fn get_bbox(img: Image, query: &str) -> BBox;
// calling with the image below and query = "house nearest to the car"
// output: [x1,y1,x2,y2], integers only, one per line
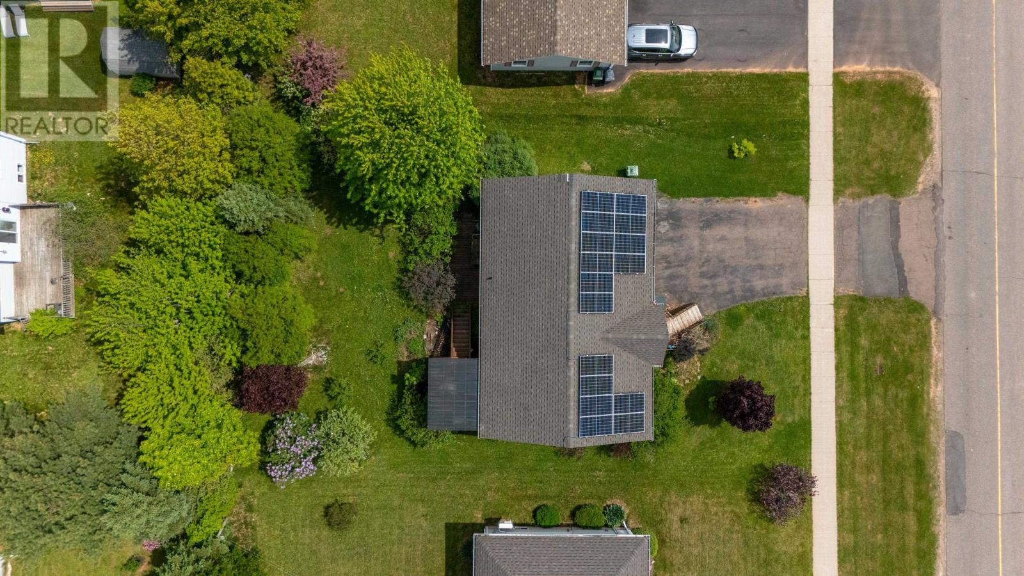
[480,0,628,78]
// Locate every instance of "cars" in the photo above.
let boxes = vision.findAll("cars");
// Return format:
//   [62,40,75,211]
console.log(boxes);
[628,19,698,62]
